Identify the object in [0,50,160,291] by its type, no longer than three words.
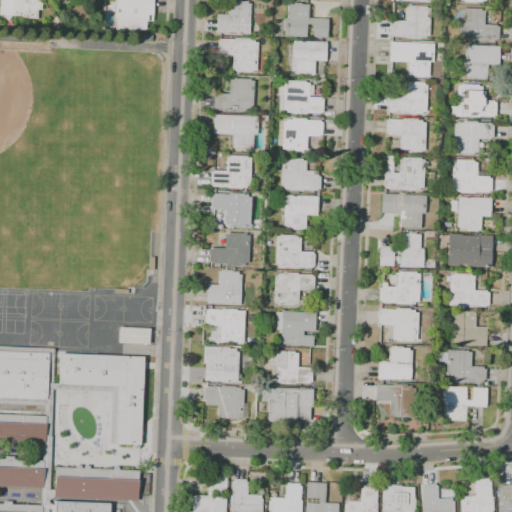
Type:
baseball field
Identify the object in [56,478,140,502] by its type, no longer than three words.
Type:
building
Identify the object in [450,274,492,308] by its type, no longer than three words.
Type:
house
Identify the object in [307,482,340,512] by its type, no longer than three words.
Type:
house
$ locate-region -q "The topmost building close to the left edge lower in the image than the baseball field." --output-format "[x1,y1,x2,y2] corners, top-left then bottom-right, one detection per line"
[0,352,50,400]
